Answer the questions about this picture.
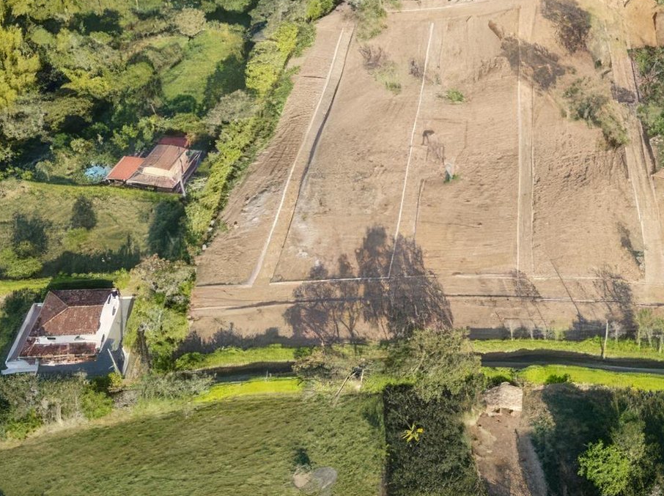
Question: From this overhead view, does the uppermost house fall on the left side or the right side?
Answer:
left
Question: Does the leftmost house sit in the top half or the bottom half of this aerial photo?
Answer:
bottom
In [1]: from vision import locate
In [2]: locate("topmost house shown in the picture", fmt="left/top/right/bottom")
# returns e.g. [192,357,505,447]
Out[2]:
[106,136,201,198]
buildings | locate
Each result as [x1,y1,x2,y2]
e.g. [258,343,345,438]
[487,385,523,417]
[3,288,125,380]
[106,136,201,198]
